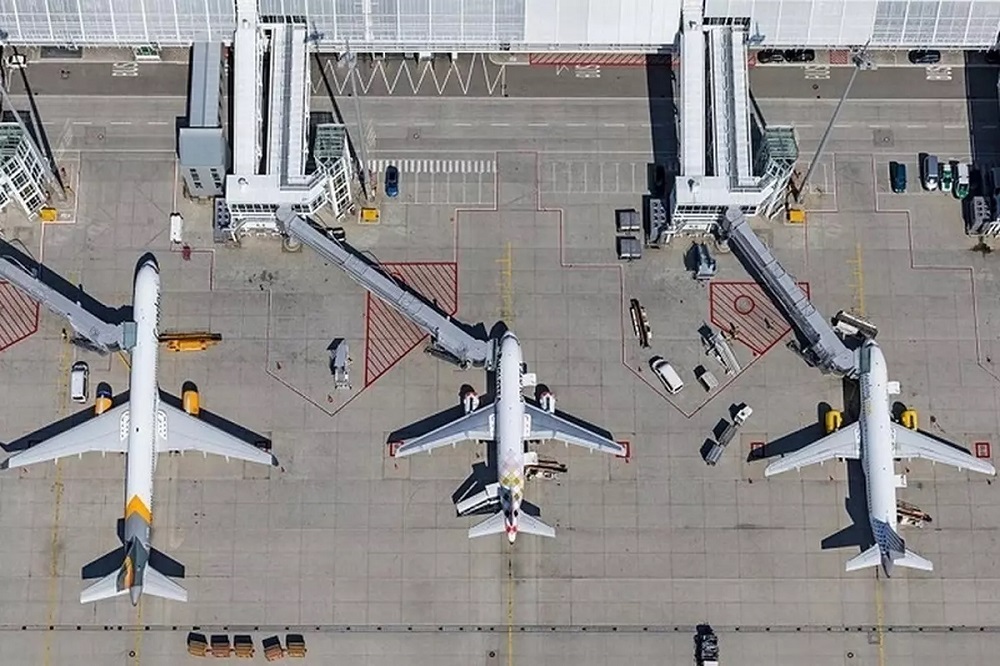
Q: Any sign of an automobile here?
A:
Yes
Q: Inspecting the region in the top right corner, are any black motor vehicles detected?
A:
Yes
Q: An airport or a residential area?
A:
airport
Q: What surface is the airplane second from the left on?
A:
apron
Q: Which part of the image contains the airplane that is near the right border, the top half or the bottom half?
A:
bottom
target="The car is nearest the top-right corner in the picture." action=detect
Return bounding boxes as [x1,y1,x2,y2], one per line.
[912,49,942,67]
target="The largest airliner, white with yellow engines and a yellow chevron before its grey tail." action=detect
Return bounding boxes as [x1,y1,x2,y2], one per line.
[0,256,276,604]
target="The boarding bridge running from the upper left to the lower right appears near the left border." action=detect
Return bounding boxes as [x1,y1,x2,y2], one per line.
[0,256,139,367]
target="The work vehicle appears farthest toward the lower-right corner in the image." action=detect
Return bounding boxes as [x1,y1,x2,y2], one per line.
[896,506,934,532]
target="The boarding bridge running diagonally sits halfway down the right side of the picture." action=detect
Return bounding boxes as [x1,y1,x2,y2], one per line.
[718,209,873,380]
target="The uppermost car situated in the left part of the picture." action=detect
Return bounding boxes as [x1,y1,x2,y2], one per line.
[385,165,399,196]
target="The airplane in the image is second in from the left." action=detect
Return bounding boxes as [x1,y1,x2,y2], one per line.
[394,332,627,541]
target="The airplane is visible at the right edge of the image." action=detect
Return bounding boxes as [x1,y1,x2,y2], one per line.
[761,339,997,573]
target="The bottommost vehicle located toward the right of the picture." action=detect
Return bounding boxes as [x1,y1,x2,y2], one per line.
[699,631,721,666]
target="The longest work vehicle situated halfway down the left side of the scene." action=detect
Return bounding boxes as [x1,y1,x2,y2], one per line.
[161,339,219,364]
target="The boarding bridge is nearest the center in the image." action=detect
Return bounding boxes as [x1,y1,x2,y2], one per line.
[272,208,498,376]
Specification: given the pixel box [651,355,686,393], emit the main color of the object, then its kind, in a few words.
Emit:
white vehicle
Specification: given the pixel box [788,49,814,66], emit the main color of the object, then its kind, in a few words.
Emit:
black car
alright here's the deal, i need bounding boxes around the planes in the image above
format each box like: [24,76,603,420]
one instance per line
[761,339,997,573]
[394,332,627,541]
[0,256,276,604]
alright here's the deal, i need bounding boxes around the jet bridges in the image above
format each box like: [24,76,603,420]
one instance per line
[718,209,873,380]
[272,208,498,376]
[0,256,139,367]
